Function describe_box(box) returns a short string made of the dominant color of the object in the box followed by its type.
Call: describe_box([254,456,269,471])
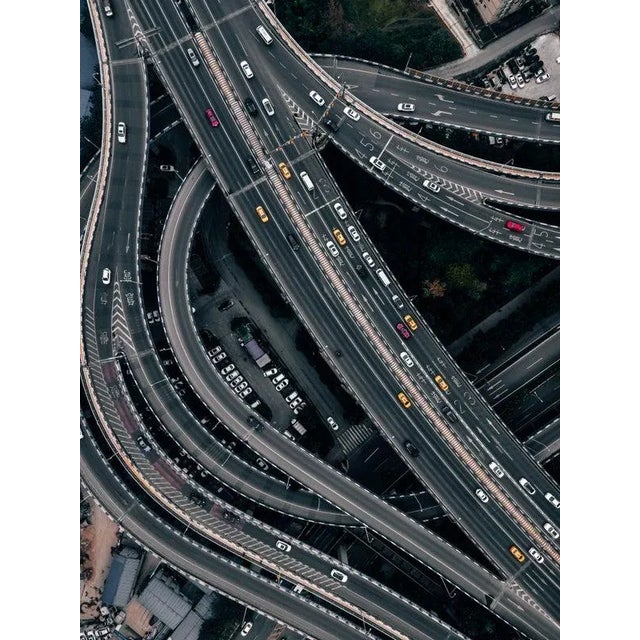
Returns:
gray car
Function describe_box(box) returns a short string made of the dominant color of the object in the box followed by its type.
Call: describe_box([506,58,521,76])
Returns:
black vehicle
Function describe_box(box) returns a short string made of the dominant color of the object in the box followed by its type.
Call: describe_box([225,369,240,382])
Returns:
white vehicle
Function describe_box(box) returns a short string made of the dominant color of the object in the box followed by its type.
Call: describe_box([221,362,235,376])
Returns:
white vehicle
